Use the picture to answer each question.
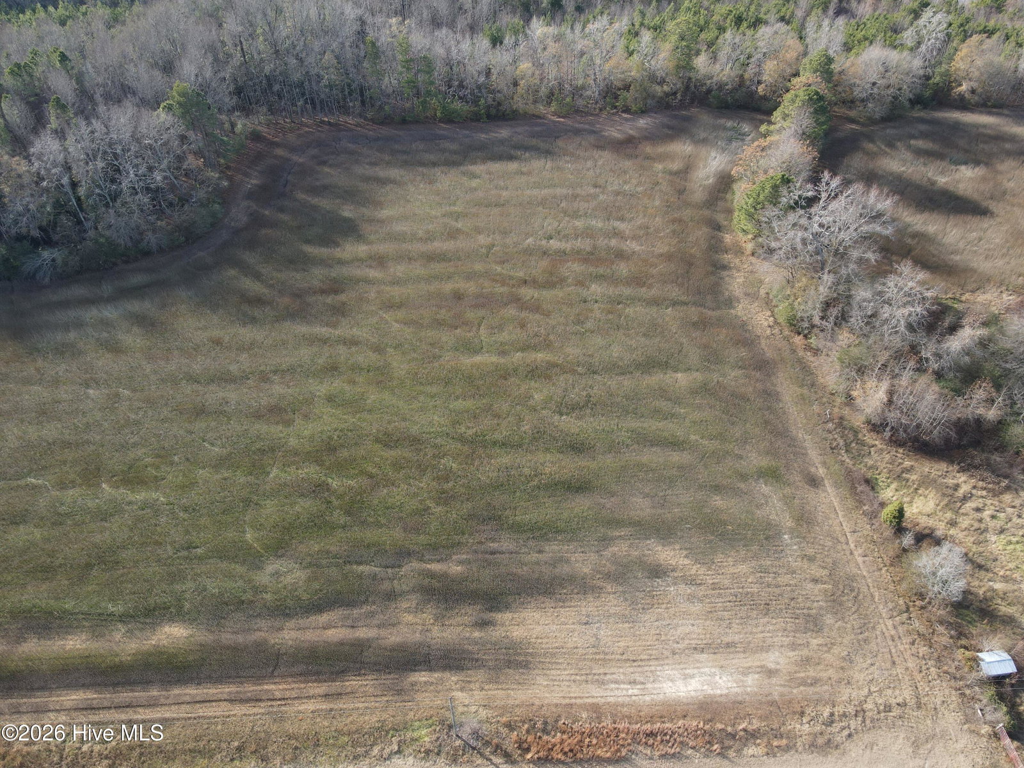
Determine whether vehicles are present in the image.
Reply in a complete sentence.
No, there's no vehicle here.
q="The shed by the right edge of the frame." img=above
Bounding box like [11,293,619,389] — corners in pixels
[971,651,1018,681]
